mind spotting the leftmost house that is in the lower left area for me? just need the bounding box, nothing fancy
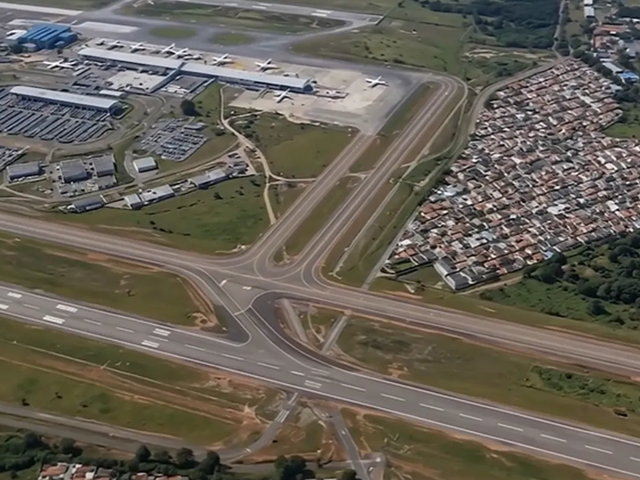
[41,462,67,480]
